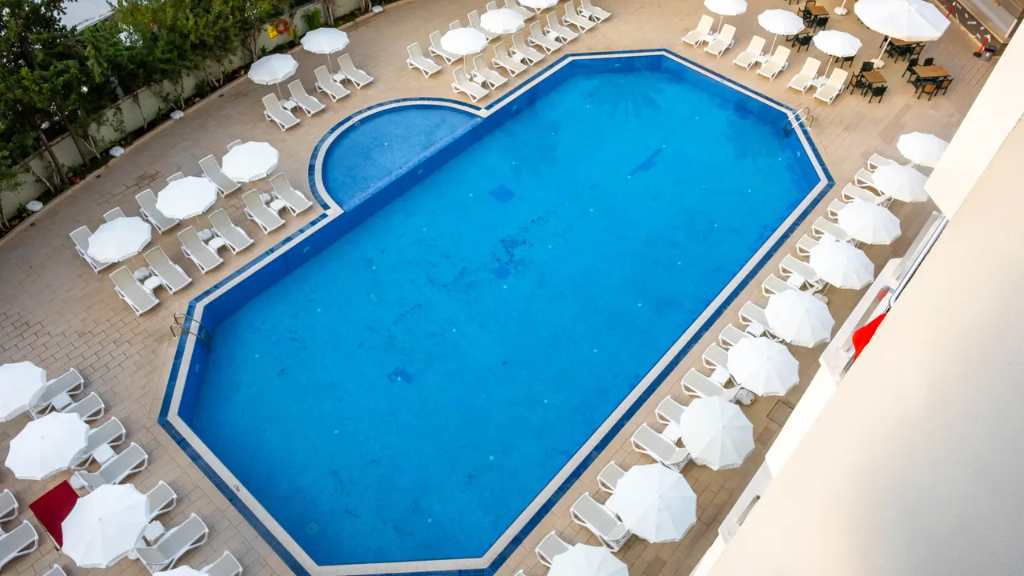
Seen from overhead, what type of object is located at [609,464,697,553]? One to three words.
umbrella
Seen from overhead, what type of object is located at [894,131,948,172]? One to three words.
umbrella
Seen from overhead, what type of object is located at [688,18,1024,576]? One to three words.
building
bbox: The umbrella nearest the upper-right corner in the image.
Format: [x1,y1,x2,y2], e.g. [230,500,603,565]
[848,0,953,66]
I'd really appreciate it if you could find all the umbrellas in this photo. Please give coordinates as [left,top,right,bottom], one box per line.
[814,30,864,80]
[156,176,225,238]
[544,523,635,576]
[296,25,349,78]
[670,397,754,473]
[609,464,697,553]
[839,200,904,249]
[848,0,953,66]
[757,10,805,59]
[513,0,560,21]
[81,214,156,279]
[702,0,750,39]
[868,162,929,209]
[894,131,948,172]
[220,141,283,202]
[809,240,876,304]
[440,26,492,79]
[246,51,300,106]
[57,483,158,576]
[480,6,528,43]
[722,335,799,403]
[0,358,53,431]
[3,408,99,489]
[762,289,836,350]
